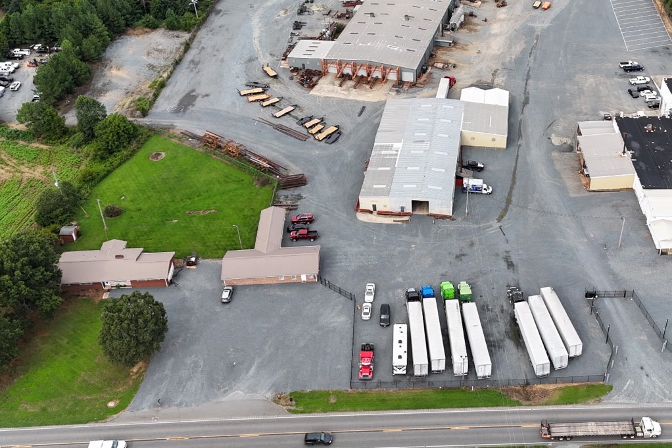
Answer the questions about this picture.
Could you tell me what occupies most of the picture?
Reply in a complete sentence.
The bulk of the photo consists of paved ground.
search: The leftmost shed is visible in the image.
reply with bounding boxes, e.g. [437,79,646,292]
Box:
[57,224,78,242]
